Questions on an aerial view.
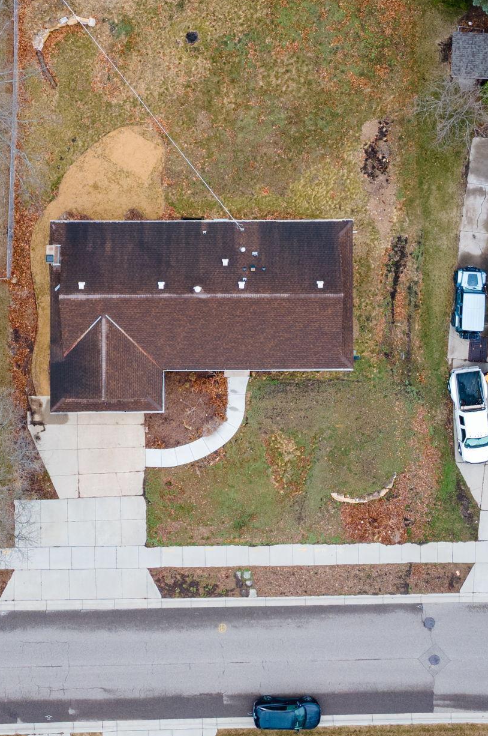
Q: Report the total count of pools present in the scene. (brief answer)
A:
0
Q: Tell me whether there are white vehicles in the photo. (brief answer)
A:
Yes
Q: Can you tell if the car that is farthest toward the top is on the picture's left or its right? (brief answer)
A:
right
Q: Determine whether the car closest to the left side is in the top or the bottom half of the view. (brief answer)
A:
bottom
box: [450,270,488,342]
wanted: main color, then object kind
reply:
white car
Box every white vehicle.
[446,364,488,463]
[450,270,488,342]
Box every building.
[46,214,360,414]
[446,32,488,84]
